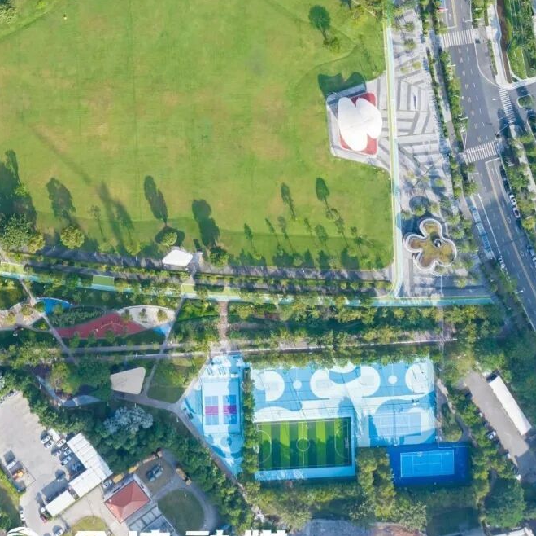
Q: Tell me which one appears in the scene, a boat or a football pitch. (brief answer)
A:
football pitch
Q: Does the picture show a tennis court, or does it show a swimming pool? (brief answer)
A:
tennis court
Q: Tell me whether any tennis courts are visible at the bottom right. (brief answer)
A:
Yes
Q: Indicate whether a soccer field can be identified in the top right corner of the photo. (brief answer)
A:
No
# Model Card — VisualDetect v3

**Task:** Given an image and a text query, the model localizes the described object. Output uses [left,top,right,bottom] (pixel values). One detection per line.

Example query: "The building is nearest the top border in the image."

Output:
[327,70,391,162]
